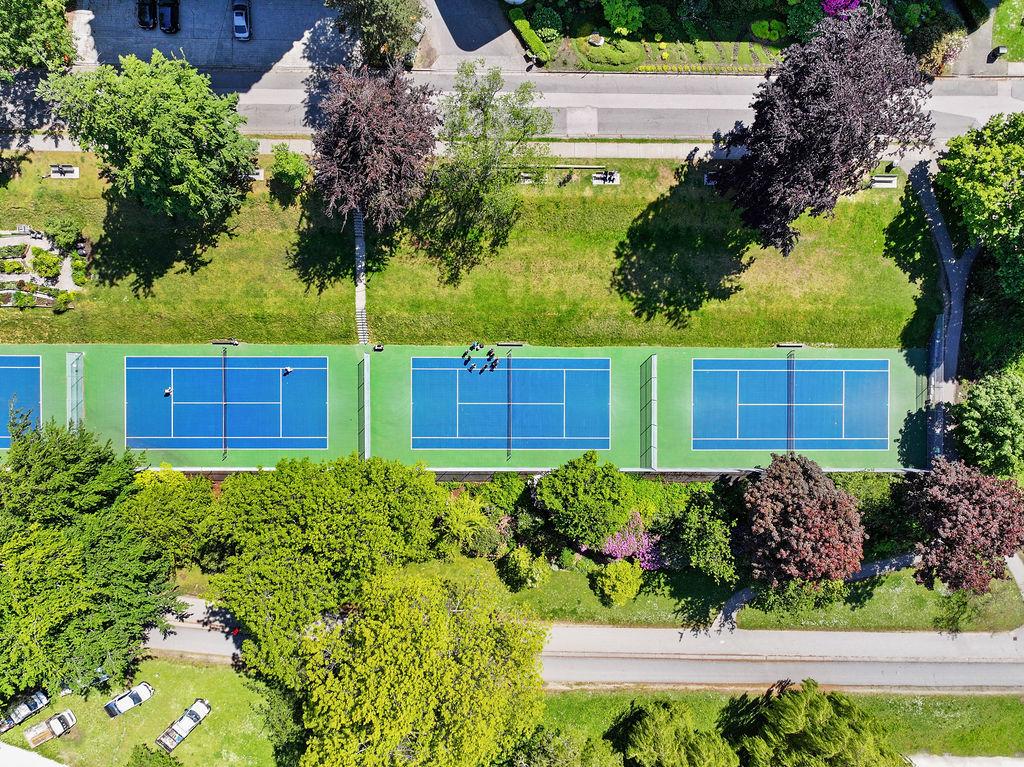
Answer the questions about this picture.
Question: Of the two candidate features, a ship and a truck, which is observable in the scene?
truck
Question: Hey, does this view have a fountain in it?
No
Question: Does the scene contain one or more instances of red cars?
No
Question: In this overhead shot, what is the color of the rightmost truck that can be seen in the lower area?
white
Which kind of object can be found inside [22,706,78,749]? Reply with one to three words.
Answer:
truck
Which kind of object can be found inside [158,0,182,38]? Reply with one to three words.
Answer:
car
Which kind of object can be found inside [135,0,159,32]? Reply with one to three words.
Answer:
car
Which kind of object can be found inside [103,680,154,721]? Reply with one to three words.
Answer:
truck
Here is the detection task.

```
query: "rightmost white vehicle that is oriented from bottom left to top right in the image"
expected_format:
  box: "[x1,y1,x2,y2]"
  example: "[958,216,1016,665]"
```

[156,698,211,754]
